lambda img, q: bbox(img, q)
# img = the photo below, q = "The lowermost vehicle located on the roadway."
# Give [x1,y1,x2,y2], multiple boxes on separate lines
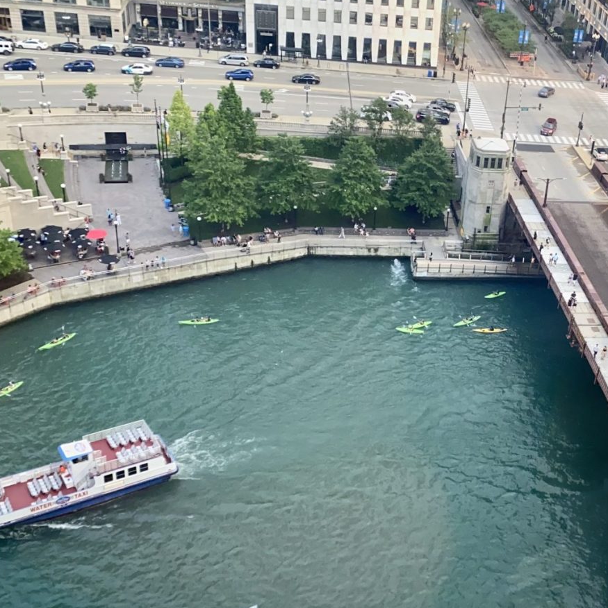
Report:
[591,148,608,161]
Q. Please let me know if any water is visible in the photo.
Yes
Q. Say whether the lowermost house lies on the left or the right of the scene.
right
